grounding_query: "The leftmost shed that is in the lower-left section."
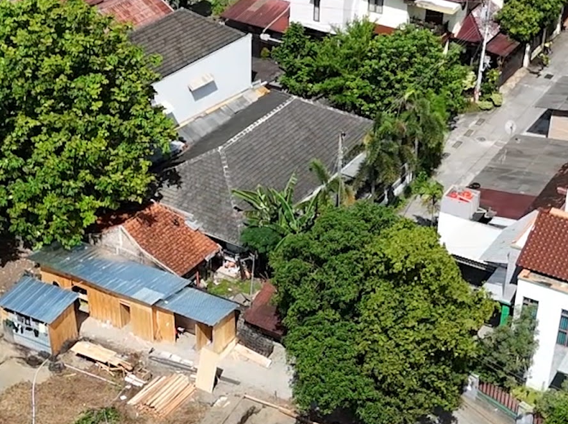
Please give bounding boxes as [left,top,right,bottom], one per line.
[0,276,79,357]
